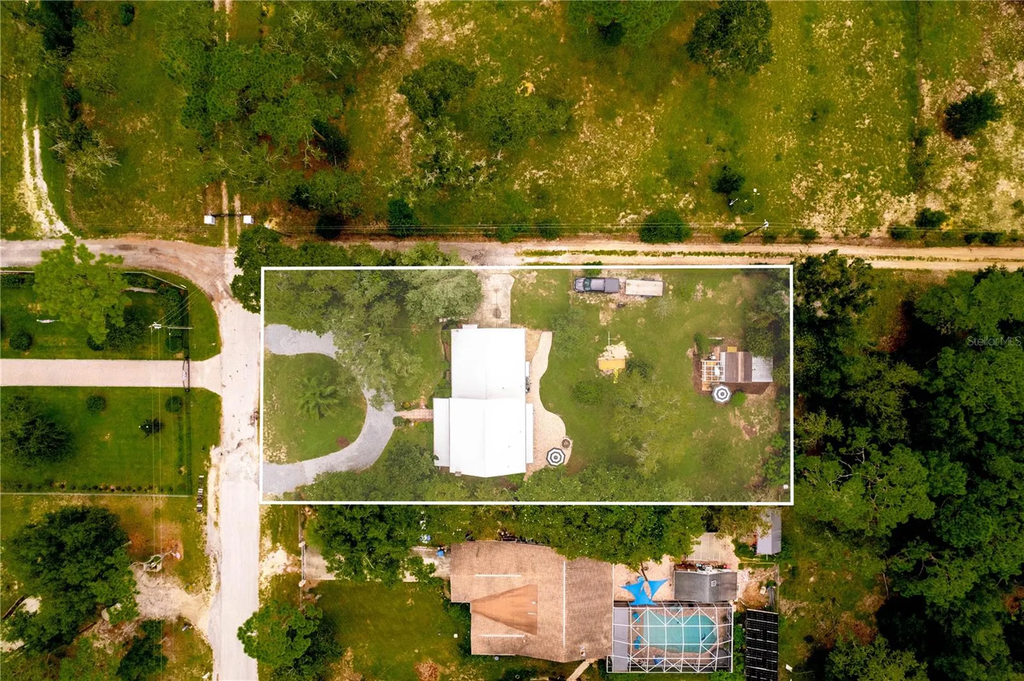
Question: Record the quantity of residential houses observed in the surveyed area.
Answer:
two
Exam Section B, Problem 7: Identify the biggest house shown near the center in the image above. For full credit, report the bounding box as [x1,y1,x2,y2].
[434,324,533,477]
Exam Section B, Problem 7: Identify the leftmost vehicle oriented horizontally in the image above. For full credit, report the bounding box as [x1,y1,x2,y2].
[573,275,621,294]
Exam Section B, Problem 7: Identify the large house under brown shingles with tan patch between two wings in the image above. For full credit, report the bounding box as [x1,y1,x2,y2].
[449,538,614,663]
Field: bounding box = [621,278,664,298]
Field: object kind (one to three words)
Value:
trailer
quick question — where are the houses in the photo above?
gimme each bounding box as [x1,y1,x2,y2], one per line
[434,324,533,477]
[449,538,614,663]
